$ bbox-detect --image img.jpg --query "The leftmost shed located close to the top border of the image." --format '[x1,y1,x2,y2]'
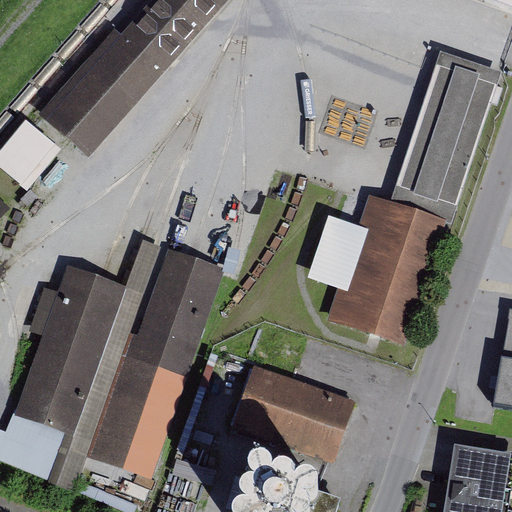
[40,0,230,156]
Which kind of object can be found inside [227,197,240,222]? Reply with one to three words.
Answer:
vehicle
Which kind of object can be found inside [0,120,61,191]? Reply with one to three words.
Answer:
shed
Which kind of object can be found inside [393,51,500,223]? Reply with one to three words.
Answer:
building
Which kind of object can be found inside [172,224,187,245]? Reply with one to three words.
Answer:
vehicle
